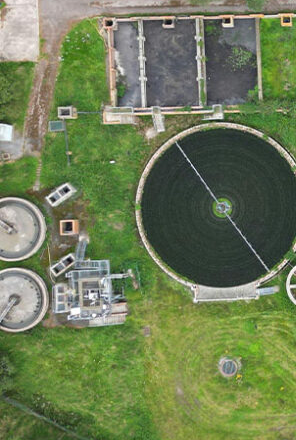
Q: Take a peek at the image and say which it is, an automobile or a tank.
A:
tank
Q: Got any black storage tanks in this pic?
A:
No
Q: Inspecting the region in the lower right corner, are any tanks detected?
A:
No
